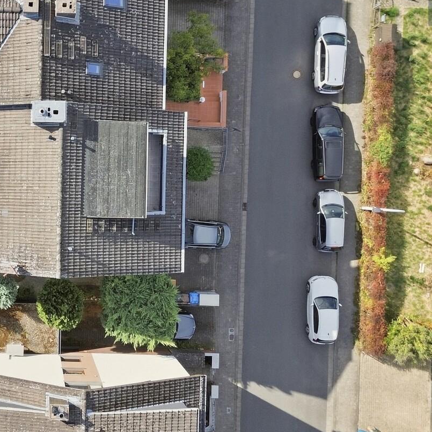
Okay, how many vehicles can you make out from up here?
6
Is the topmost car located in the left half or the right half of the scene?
right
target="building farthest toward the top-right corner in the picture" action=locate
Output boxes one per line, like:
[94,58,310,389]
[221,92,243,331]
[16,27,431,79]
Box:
[374,21,397,40]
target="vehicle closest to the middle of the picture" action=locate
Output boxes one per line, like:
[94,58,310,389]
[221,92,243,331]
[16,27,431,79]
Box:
[187,220,231,249]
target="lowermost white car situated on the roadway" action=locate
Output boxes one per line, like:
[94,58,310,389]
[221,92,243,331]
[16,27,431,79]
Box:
[305,275,342,344]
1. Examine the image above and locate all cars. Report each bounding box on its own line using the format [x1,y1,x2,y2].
[310,105,348,180]
[187,220,231,249]
[311,189,348,253]
[305,275,342,344]
[170,310,194,342]
[312,17,350,94]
